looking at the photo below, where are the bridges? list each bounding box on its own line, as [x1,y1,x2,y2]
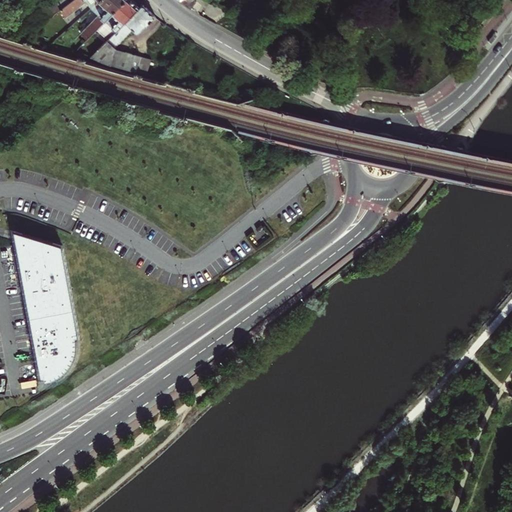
[0,38,512,194]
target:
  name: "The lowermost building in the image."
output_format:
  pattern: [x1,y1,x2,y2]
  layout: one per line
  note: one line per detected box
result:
[8,232,76,385]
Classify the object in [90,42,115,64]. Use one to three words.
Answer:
building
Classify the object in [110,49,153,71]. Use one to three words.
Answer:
building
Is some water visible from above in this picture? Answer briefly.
Yes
